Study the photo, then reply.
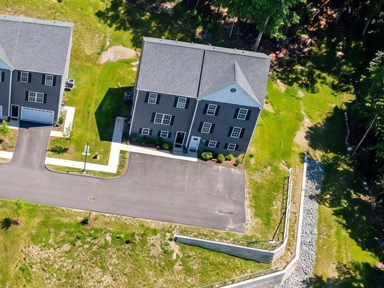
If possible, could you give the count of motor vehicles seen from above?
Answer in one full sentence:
Not a single motor vehicle can be seen.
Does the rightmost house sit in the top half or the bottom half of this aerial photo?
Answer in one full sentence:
The rightmost house sits in the top half of the picture.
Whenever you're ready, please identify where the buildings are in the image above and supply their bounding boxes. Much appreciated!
[0,13,76,126]
[128,35,270,154]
